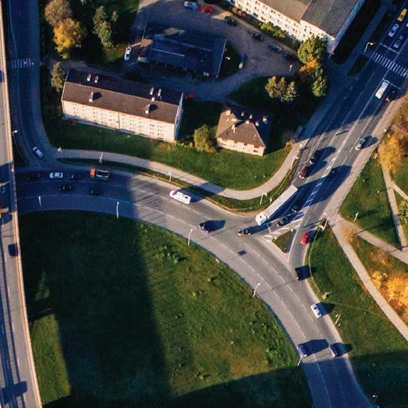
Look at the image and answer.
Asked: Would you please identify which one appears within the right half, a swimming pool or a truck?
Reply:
truck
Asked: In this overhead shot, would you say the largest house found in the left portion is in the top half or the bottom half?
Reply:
top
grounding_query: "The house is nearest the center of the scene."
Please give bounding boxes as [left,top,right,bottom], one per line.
[214,107,276,156]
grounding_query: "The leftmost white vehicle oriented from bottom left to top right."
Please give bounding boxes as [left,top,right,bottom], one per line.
[258,178,300,224]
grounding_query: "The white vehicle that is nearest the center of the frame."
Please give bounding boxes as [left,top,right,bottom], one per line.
[170,188,194,202]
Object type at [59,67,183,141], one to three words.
house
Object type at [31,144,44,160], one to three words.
vehicle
